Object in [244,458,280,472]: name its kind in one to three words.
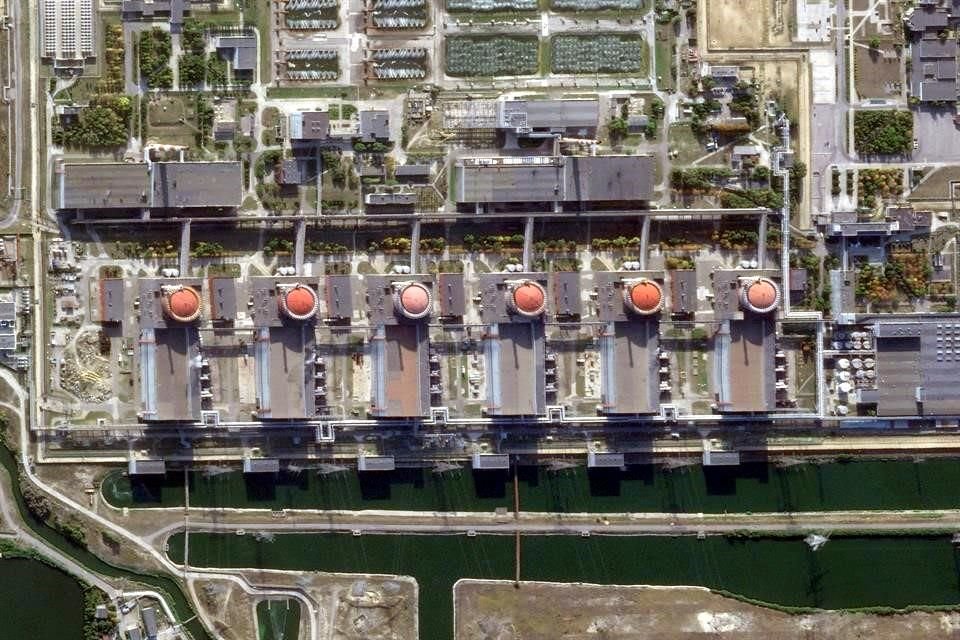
building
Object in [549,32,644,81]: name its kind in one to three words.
pond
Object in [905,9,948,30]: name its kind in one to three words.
building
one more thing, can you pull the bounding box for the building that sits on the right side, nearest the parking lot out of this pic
[917,82,957,100]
